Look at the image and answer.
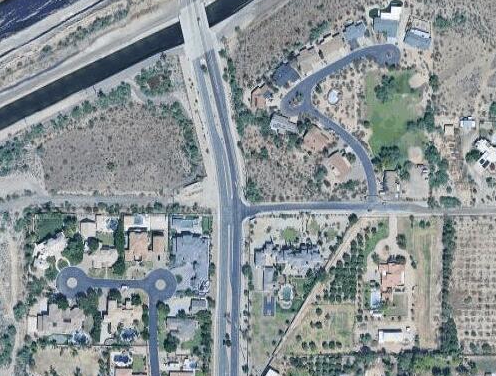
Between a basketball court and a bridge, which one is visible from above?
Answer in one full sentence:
The one in the frame is a bridge.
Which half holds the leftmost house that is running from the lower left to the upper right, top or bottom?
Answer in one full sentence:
The bottom half of the photo is where the leftmost house that is running from the lower left to the upper right is.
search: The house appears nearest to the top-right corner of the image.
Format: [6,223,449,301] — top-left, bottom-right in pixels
[406,28,431,51]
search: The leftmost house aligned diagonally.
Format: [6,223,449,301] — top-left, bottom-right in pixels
[31,230,70,271]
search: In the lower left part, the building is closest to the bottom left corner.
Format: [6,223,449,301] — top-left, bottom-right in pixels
[41,304,87,332]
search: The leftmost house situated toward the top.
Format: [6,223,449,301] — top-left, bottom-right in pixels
[252,83,272,104]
